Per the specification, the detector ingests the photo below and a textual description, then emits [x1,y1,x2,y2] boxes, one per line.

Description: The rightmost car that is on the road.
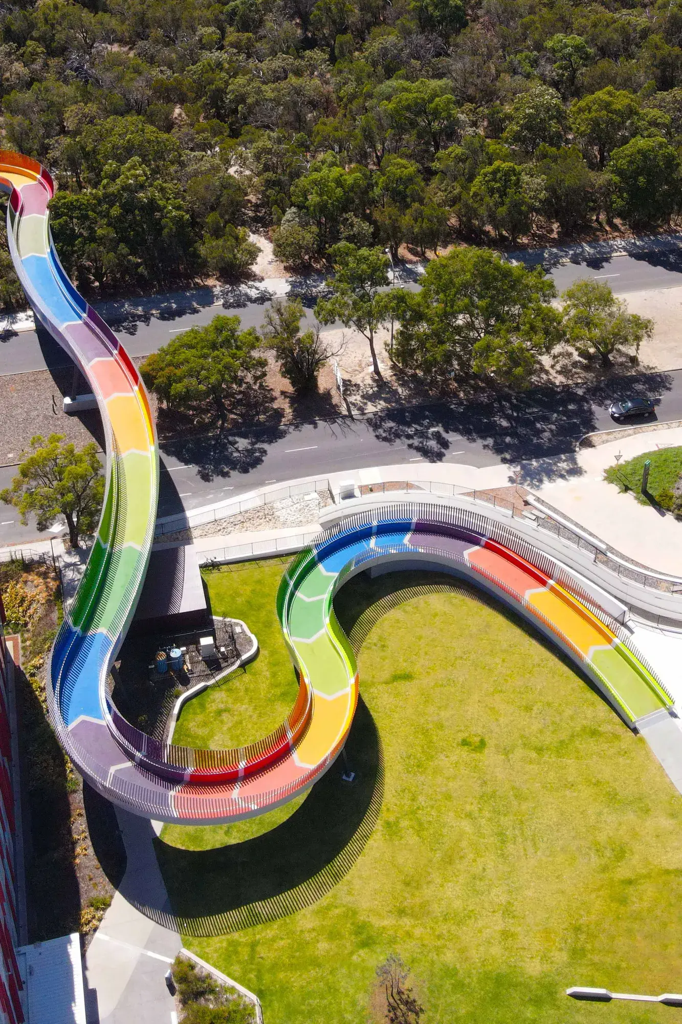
[610,401,656,423]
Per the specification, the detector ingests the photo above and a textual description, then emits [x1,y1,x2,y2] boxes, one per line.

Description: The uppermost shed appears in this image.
[125,545,206,643]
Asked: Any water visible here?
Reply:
No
